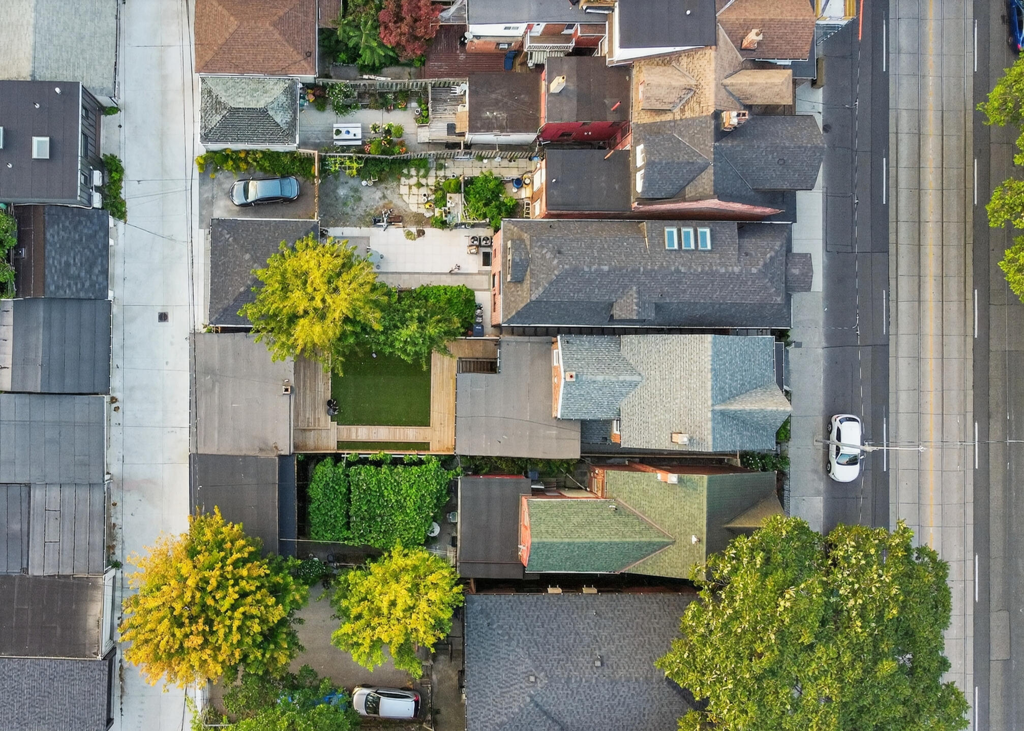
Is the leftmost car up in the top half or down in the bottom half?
top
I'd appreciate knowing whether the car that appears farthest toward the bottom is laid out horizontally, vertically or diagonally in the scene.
horizontally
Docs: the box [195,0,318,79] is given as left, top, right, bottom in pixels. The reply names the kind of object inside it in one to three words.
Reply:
building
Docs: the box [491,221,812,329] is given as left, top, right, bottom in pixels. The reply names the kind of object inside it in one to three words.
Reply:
house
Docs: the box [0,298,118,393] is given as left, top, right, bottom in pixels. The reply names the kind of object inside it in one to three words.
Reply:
building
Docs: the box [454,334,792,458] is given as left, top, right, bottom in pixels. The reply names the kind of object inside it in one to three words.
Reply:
house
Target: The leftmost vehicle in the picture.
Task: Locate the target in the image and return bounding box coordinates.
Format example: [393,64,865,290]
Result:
[227,172,301,207]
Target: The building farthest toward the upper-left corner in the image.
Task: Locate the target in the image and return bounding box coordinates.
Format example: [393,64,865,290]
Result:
[0,0,121,101]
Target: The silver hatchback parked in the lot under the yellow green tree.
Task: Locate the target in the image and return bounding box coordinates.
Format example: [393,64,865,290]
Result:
[354,690,422,725]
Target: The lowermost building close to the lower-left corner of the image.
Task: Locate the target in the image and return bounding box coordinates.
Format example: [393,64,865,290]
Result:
[0,653,115,731]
